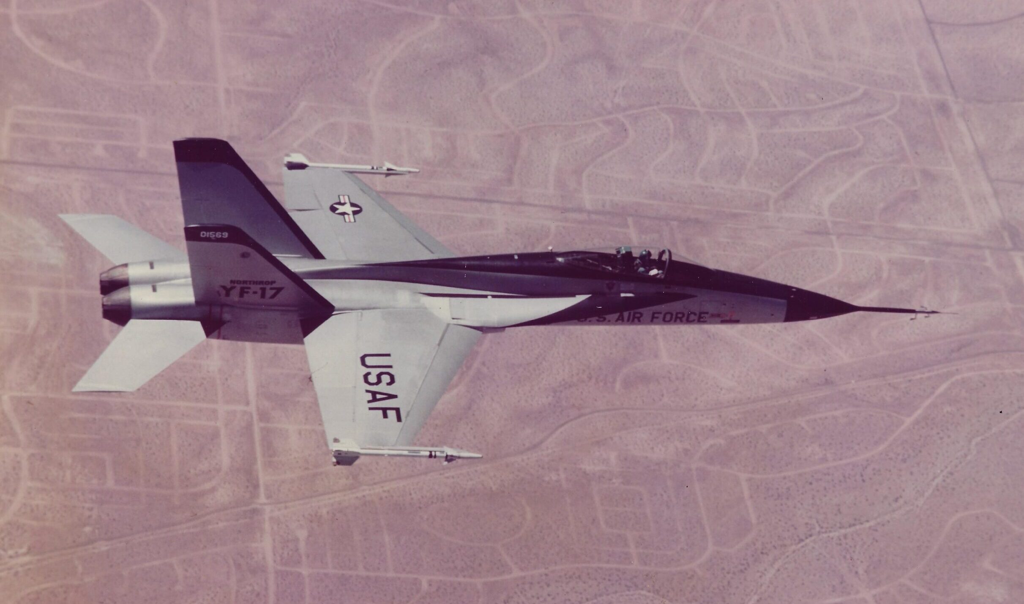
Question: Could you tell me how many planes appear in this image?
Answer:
1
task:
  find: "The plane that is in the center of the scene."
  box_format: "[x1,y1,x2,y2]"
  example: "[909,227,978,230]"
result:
[58,140,957,453]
